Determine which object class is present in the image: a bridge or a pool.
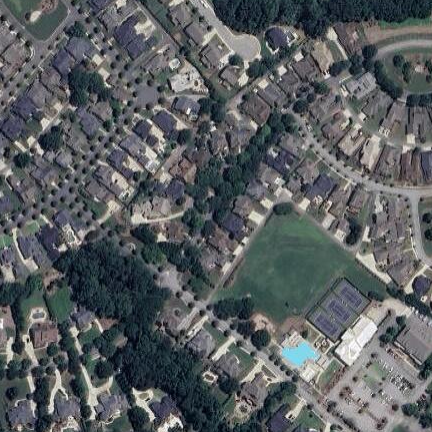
pool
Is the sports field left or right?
right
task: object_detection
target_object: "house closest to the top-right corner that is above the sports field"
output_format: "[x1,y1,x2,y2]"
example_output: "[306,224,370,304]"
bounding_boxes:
[335,20,365,56]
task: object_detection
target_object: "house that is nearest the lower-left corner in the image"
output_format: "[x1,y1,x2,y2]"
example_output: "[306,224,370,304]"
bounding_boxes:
[8,396,38,428]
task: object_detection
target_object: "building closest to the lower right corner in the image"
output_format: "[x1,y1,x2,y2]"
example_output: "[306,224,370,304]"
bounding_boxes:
[393,323,432,367]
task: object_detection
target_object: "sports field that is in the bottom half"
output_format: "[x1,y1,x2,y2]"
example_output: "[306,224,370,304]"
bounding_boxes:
[212,214,386,326]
